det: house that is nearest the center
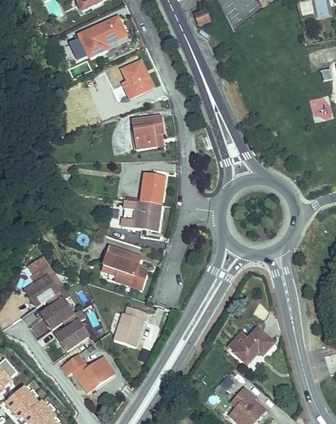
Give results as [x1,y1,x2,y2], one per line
[112,172,167,233]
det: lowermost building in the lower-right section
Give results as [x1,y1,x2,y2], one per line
[228,386,268,424]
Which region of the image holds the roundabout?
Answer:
right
